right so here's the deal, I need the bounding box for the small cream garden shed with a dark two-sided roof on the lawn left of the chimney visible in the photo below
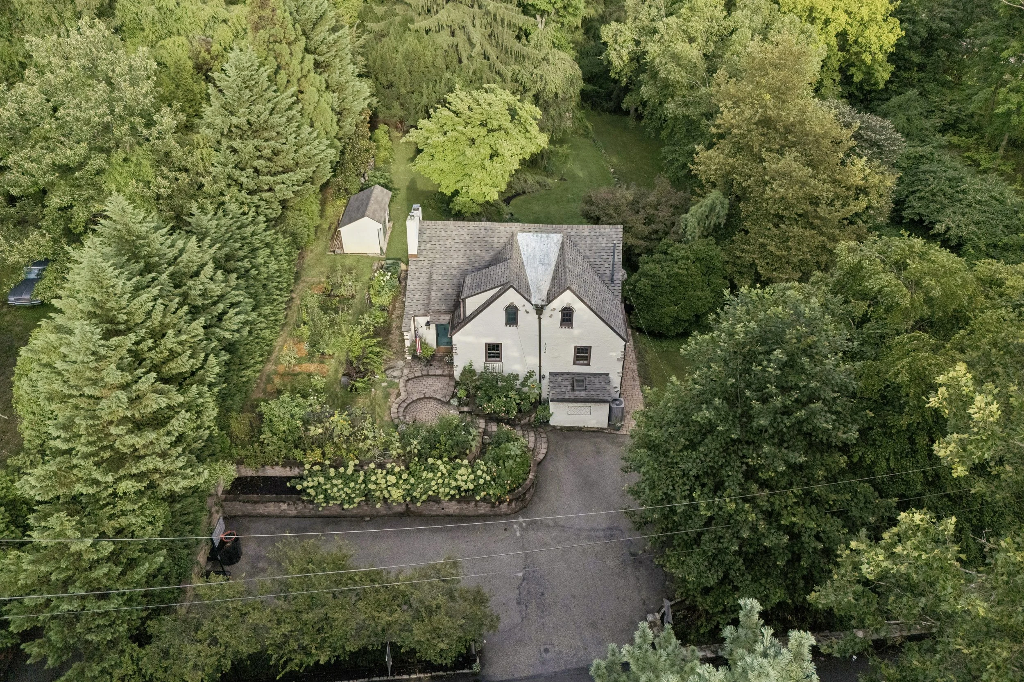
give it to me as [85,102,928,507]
[338,192,395,254]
